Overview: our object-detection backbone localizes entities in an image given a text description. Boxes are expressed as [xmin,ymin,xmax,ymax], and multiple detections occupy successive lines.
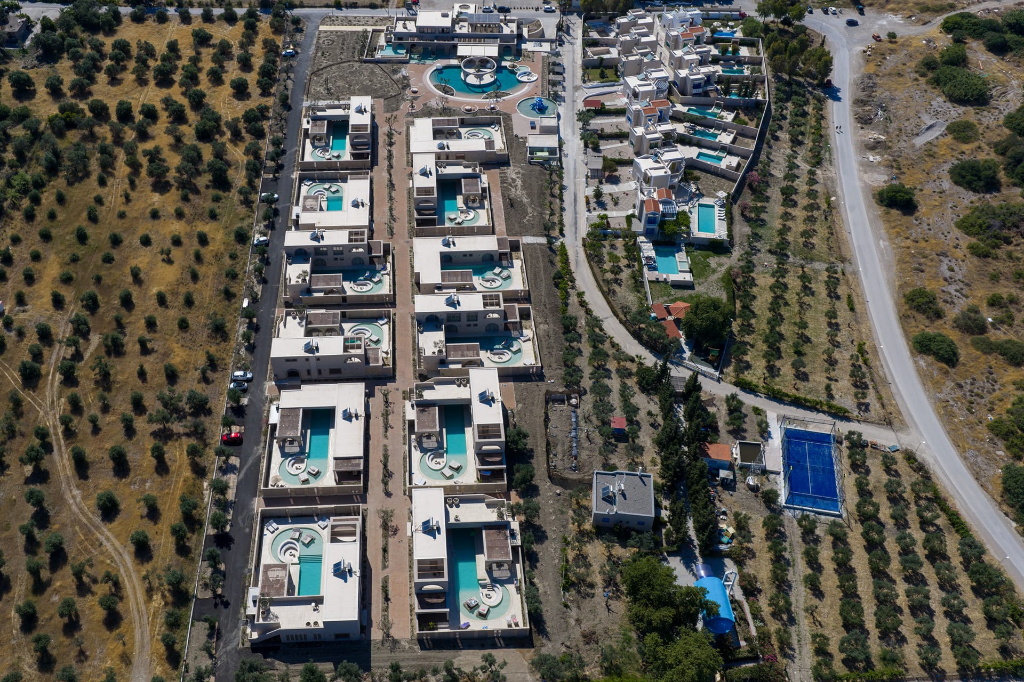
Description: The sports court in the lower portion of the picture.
[778,415,844,514]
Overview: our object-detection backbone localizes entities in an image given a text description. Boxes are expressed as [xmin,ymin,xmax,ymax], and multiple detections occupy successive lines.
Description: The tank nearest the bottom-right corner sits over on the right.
[733,441,764,470]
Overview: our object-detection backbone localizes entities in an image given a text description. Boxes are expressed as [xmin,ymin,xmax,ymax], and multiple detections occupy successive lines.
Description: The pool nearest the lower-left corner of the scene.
[268,522,326,601]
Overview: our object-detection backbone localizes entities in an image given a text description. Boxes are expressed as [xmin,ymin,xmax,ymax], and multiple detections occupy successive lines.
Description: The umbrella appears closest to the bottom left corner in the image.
[269,471,284,484]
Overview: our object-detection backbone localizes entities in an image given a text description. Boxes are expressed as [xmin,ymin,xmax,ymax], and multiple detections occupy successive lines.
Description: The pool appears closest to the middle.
[445,334,524,366]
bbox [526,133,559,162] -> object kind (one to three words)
building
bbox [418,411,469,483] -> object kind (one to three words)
swimming pool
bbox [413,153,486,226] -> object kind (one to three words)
house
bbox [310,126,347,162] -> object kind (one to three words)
swimming pool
